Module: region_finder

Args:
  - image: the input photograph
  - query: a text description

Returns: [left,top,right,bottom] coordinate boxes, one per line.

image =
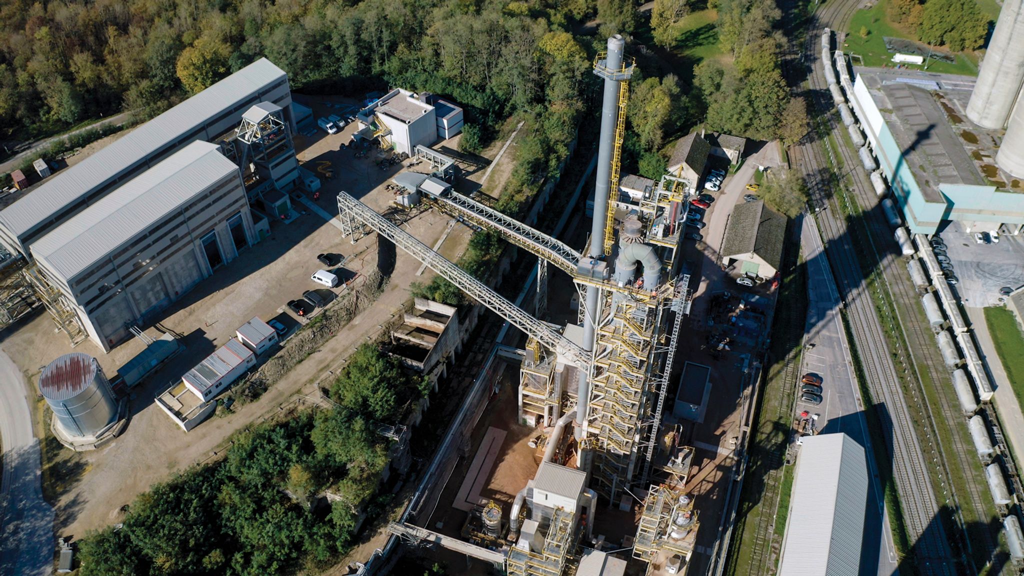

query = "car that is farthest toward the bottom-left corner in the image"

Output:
[266,317,287,334]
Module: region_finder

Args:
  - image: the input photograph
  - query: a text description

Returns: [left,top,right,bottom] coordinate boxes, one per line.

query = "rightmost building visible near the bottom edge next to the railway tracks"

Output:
[777,432,868,576]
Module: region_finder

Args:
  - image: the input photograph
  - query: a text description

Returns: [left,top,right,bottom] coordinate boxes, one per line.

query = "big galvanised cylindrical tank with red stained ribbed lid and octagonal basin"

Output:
[34,353,127,452]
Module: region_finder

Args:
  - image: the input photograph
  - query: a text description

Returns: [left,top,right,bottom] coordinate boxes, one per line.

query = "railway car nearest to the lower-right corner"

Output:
[998,510,1024,569]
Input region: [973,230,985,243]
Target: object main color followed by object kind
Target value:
white vehicle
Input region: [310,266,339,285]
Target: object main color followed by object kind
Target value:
white vehicle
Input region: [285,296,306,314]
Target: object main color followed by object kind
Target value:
black car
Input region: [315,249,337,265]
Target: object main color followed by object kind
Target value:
black car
